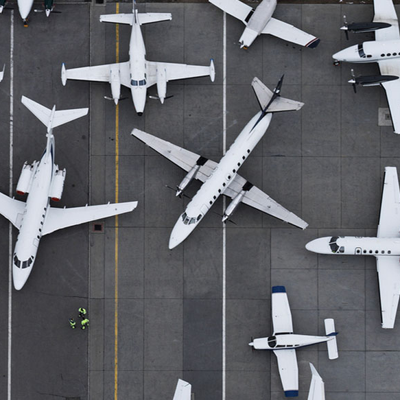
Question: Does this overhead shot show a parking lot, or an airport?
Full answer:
This image shows an airport.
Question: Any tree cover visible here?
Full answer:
No, no tree cover is visible.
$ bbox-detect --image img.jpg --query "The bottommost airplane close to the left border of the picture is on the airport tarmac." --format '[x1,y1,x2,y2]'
[0,94,134,291]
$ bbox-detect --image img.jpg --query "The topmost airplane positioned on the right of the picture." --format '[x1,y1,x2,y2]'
[211,0,322,53]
